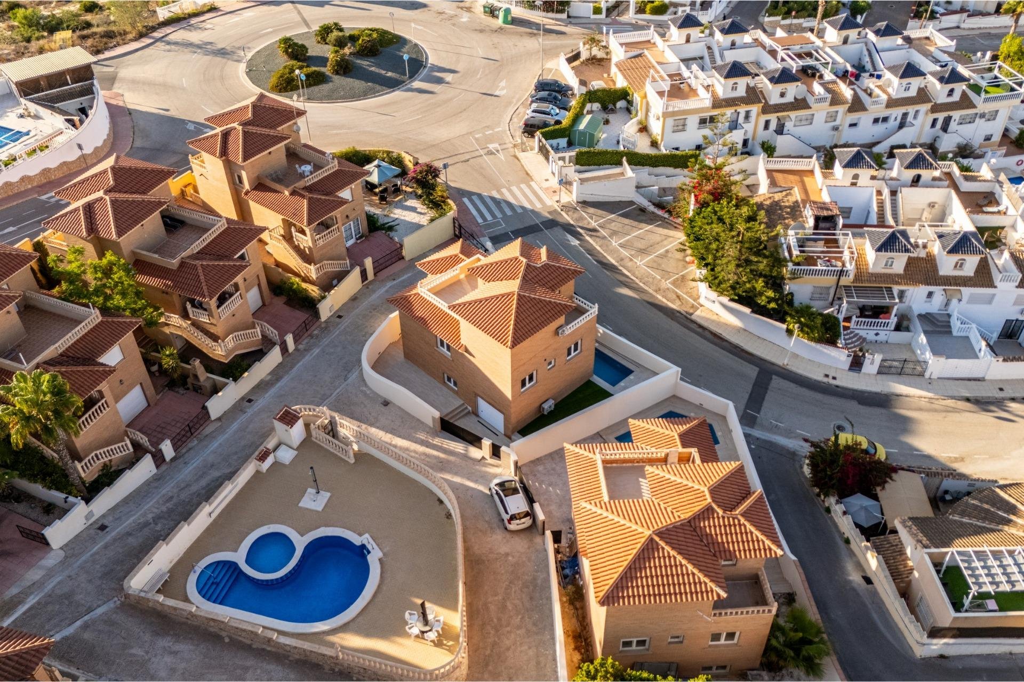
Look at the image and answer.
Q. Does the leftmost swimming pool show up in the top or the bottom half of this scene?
top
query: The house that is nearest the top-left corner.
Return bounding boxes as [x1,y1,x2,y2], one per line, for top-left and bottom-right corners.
[0,46,113,194]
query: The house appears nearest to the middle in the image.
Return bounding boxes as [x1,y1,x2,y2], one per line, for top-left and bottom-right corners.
[384,235,598,435]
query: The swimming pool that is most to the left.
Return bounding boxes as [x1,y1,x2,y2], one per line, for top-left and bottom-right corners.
[0,125,28,154]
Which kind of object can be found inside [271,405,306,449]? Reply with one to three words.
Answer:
building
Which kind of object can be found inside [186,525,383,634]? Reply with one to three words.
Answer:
swimming pool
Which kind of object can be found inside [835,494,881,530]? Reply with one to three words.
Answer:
umbrella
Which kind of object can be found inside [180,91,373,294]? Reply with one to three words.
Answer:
house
